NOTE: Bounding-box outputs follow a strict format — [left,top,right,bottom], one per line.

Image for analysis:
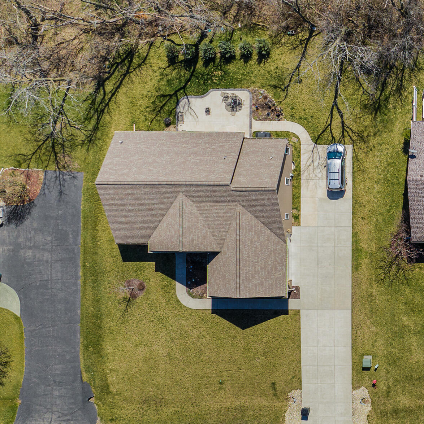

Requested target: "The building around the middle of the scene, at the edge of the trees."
[95,124,296,301]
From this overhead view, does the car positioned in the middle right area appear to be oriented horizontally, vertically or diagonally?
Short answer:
vertically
